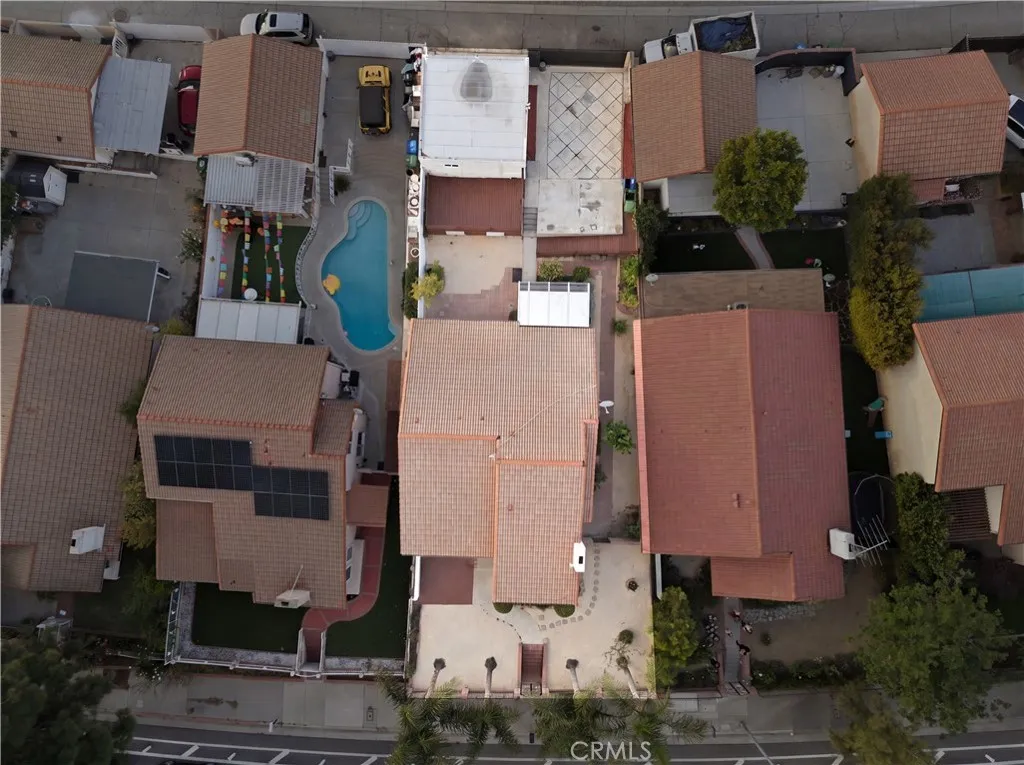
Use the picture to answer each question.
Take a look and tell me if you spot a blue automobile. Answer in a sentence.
No, the scene contains no blue automobile.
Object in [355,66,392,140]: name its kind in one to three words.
car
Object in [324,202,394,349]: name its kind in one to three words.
swimming pool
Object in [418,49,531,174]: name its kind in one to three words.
building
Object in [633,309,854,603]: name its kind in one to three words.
house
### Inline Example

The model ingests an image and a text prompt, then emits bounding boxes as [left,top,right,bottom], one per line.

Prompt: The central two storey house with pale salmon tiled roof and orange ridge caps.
[398,318,599,606]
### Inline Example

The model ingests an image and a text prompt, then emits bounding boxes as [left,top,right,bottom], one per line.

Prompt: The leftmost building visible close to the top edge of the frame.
[0,32,115,164]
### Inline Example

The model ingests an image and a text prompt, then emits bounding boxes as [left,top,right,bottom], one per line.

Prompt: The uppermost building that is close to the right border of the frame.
[845,49,1011,204]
